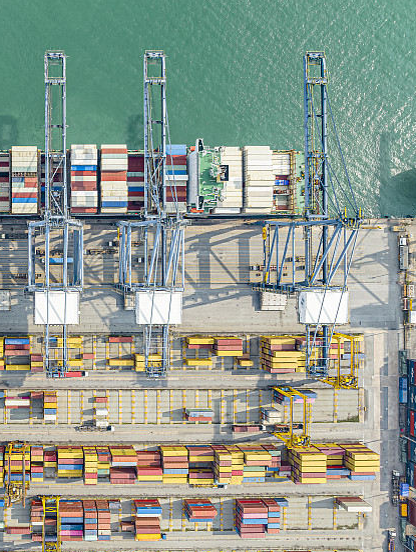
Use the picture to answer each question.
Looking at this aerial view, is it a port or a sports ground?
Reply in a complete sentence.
The picture captures a port.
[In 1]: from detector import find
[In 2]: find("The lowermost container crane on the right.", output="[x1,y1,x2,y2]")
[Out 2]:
[270,387,314,451]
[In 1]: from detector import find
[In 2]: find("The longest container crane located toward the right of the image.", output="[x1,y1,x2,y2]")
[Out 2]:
[239,46,370,381]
